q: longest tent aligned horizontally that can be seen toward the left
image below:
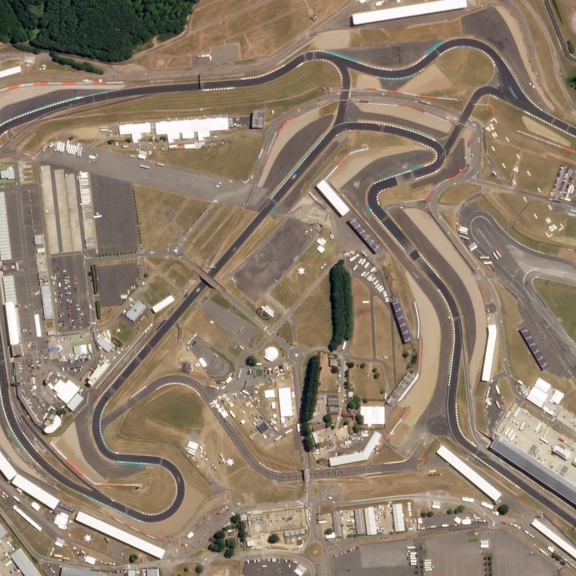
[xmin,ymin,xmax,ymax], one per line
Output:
[156,116,228,134]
